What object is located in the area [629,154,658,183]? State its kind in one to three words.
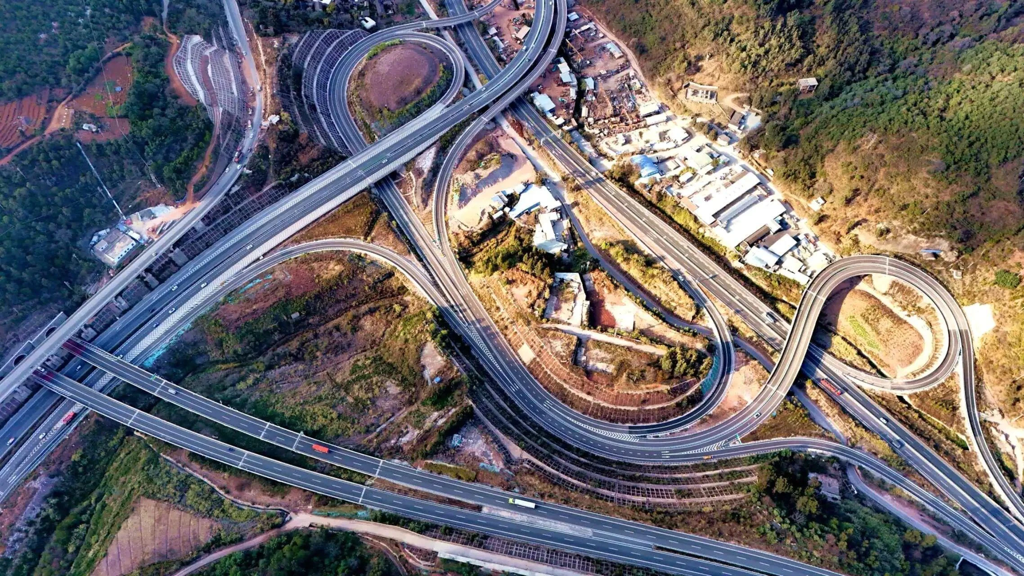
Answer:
shed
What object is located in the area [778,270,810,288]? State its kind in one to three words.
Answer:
building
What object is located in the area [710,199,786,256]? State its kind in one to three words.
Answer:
building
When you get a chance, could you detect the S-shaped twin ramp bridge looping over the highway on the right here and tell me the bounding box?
[750,256,866,415]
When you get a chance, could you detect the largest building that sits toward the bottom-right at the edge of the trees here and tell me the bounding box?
[819,476,839,496]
